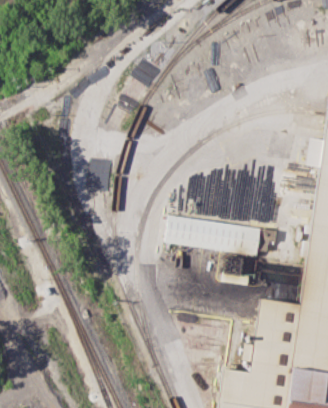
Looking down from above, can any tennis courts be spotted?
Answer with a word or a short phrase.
No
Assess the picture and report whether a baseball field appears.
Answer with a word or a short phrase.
No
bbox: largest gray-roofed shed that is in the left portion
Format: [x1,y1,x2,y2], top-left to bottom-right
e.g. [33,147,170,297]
[88,159,112,192]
